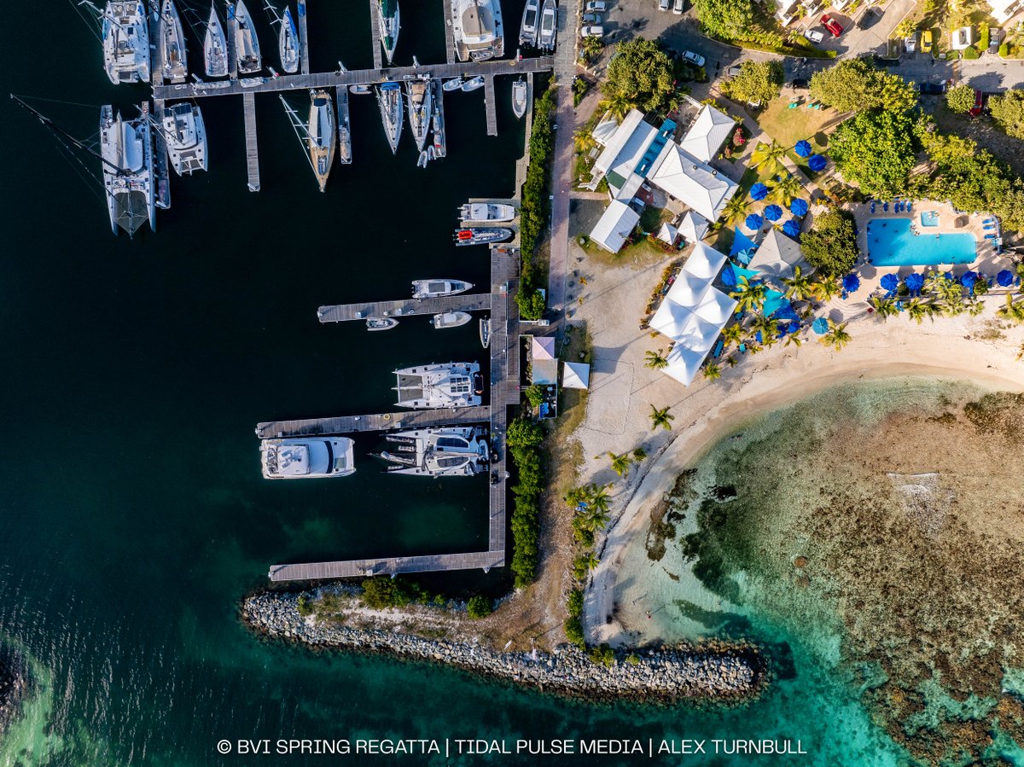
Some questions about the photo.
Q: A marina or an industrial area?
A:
marina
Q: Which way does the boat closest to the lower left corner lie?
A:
from side to side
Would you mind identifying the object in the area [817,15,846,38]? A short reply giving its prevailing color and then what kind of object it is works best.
red truck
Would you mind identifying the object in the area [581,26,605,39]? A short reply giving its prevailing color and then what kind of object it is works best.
white vehicle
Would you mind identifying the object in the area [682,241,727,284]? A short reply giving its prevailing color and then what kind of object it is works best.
white tent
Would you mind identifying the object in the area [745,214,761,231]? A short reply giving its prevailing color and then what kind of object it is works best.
blue umbrella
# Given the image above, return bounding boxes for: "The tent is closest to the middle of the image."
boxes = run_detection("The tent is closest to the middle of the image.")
[563,362,590,389]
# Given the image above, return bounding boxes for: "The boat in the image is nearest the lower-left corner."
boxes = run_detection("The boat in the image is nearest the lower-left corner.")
[260,437,356,480]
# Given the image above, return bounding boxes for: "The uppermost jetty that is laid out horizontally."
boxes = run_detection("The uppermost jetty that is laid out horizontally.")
[153,50,555,100]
